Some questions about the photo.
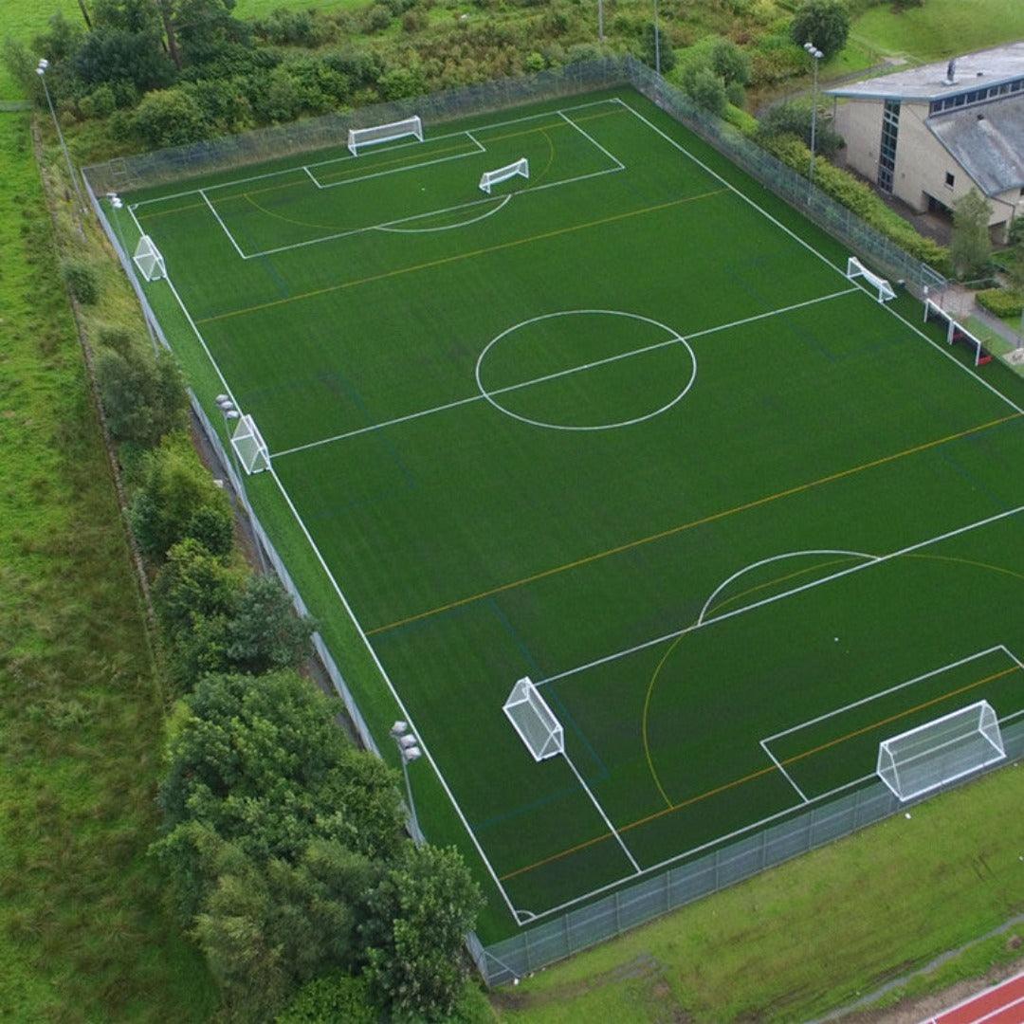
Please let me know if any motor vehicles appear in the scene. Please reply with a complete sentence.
No, no motor vehicle is visible in the scene.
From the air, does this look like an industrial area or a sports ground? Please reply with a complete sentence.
It's a sports ground.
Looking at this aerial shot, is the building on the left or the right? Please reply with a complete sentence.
The building is on the right side of the image.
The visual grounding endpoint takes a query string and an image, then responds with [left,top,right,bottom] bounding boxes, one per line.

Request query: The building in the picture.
[818,50,1024,244]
